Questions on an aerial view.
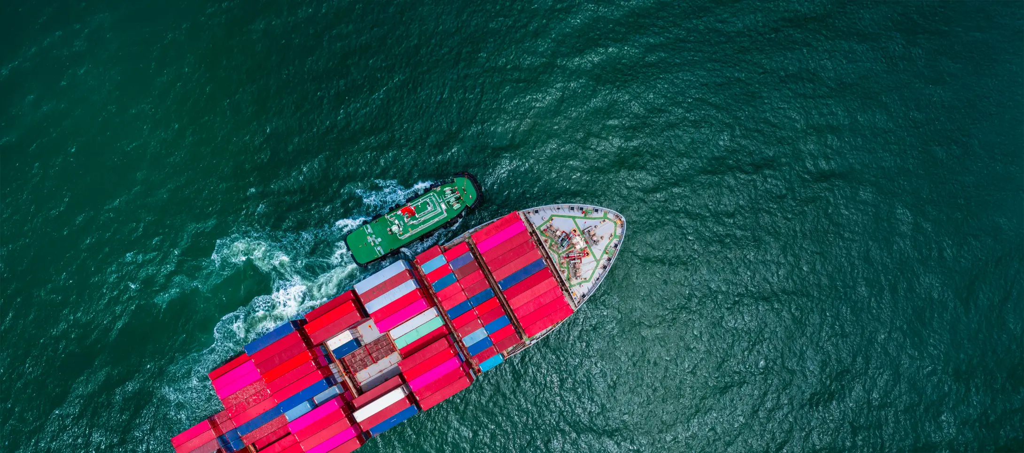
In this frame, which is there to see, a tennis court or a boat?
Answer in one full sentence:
Visible in the photo is a boat.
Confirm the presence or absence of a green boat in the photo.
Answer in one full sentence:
Yes, looking at the shot, I can spot a green boat.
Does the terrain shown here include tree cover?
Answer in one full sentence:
No, the scene doesn't show any tree cover.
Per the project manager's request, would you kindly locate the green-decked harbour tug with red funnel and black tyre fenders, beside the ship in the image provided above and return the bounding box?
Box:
[345,172,483,268]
